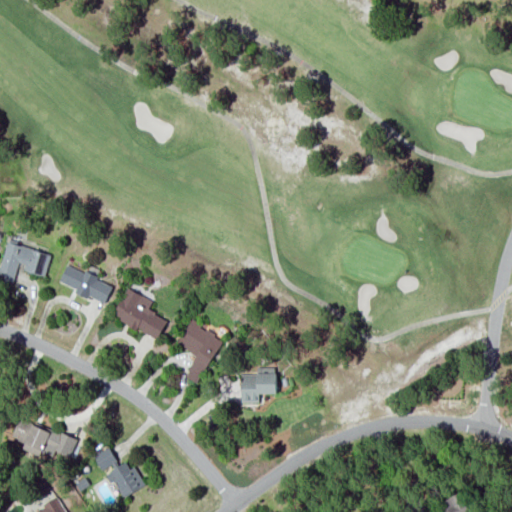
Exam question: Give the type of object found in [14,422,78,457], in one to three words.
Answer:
house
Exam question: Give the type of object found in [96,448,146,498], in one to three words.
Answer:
house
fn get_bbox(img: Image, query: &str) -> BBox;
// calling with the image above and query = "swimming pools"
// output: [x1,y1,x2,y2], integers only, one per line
[92,478,120,508]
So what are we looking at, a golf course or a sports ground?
golf course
